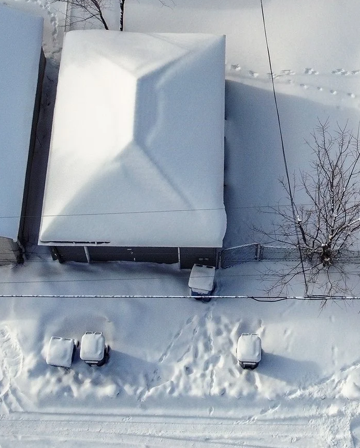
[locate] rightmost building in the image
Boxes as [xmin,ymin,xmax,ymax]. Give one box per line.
[39,32,227,268]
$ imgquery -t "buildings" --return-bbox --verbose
[0,8,51,265]
[39,32,227,268]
